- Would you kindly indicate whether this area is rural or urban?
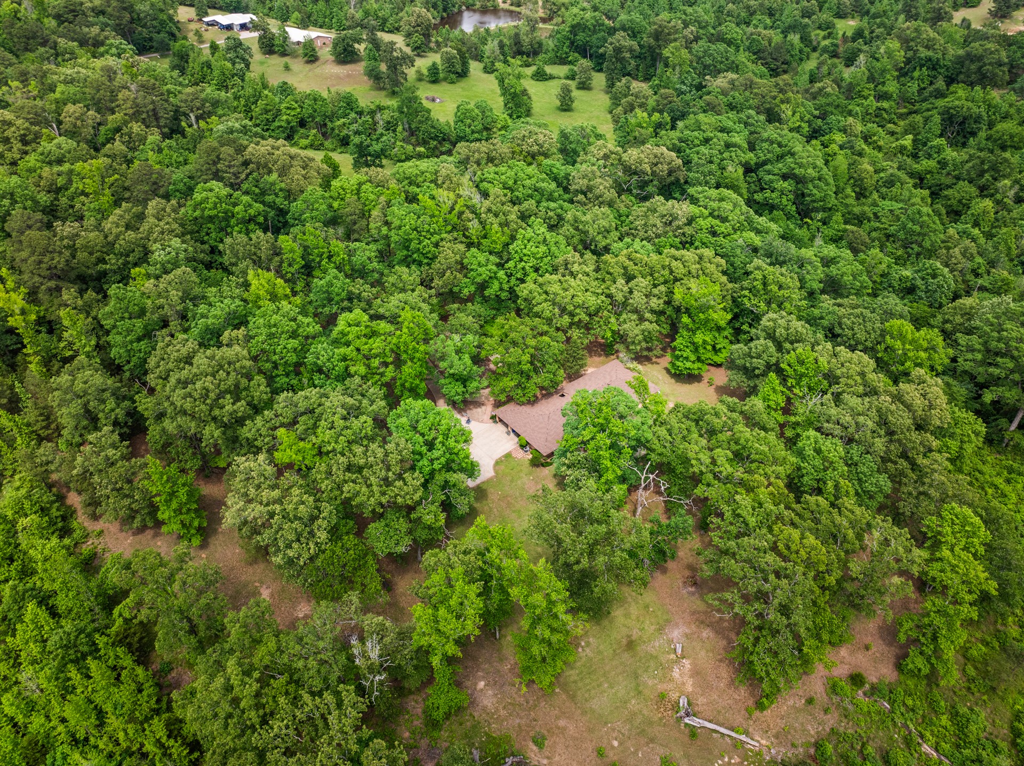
rural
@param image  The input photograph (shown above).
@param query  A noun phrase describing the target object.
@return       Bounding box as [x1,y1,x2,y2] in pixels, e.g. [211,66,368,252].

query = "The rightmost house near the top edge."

[283,29,333,47]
